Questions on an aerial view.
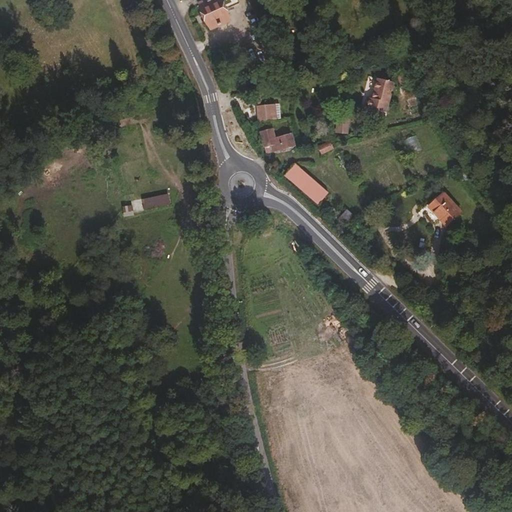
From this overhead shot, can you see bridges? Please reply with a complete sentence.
No, the photo shows no bridge.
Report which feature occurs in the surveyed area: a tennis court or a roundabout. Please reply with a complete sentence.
I can see a roundabout in this picture.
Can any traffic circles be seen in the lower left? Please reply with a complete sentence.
No, no traffic circle appears in the lower left.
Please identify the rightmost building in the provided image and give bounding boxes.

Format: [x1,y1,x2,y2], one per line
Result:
[428,192,462,227]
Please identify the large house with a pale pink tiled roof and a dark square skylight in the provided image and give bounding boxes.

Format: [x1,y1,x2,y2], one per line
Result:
[198,0,230,31]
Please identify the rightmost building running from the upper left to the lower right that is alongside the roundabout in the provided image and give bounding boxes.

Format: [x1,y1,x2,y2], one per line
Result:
[284,163,328,204]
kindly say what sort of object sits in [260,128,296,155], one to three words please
house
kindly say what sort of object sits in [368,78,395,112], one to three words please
house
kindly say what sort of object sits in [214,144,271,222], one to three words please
roundabout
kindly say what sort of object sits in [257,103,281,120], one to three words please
shed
